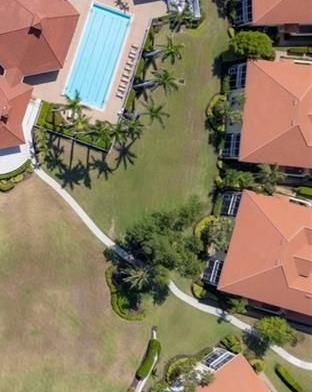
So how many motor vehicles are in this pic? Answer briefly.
0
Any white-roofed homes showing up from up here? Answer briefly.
No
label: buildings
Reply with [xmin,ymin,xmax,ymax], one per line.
[238,0,312,36]
[0,0,80,149]
[171,350,275,392]
[225,51,312,176]
[205,187,312,322]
